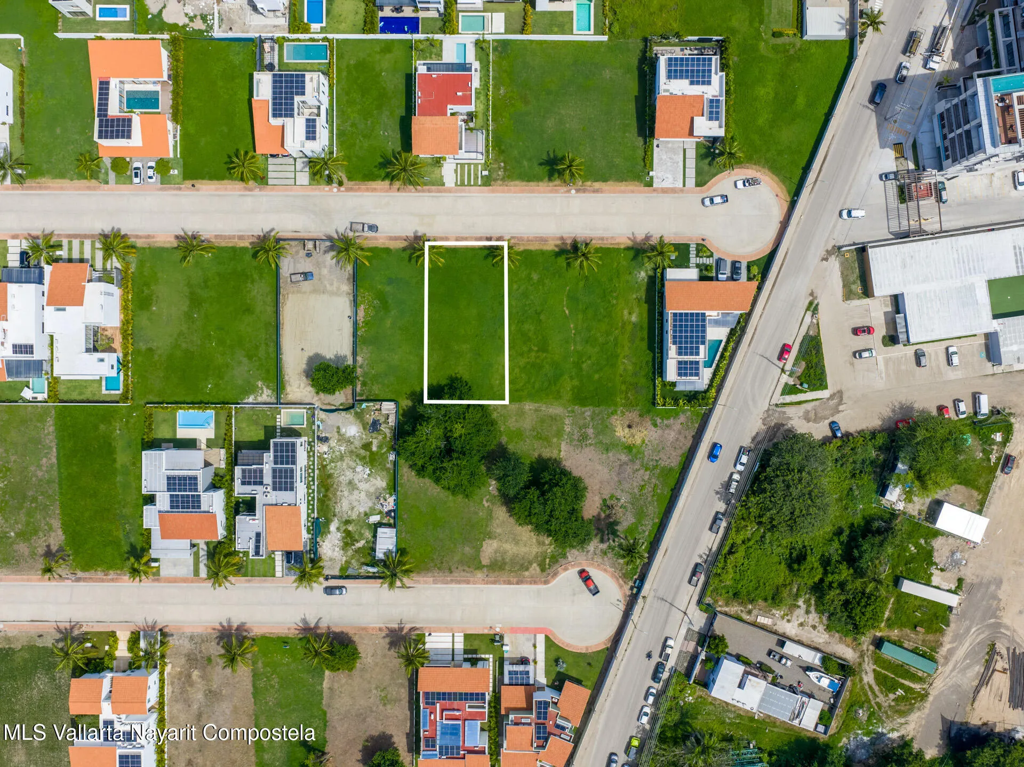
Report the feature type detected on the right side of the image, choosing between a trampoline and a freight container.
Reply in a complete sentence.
You can see a freight container on the right side of the image.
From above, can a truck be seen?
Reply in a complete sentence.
Yes, the frame does contain a truck.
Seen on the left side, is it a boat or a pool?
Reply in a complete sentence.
What appears on the left side is a pool.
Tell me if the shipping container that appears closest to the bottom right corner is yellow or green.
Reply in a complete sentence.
In this view, the shipping container that appears closest to the bottom right corner is green.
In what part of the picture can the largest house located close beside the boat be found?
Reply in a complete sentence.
The largest house located close beside the boat appears toward the bottom right of the photo.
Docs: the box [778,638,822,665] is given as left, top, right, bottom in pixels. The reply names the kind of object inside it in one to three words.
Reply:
truck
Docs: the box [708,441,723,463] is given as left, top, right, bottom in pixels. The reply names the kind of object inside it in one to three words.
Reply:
car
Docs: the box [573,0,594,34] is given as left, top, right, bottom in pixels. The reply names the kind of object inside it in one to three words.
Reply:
swimming pool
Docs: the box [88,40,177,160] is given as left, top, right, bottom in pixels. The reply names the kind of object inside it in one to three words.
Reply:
house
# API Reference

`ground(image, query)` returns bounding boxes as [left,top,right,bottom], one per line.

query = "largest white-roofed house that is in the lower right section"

[706,654,799,721]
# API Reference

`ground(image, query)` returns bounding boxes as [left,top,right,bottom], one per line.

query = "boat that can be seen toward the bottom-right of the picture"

[803,669,848,699]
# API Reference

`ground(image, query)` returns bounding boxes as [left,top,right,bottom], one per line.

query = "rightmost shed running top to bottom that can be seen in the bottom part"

[878,458,907,503]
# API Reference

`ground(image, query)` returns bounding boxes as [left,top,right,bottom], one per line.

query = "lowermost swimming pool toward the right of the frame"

[702,338,724,369]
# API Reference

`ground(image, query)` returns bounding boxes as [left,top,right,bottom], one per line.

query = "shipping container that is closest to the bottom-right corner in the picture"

[875,636,938,674]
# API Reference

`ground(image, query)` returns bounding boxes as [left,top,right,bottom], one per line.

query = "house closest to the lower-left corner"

[68,667,160,767]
